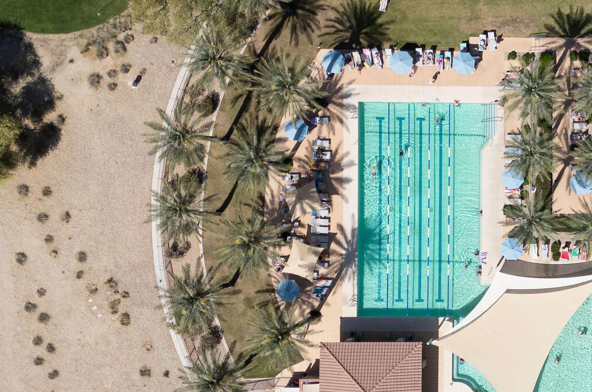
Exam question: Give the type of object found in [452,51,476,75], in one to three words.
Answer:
umbrella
